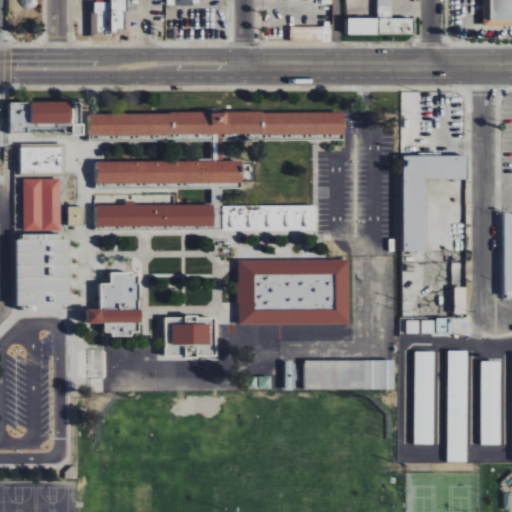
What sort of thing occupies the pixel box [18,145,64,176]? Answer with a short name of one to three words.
building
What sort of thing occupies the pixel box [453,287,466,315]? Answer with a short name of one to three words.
shed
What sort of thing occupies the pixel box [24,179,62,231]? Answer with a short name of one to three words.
building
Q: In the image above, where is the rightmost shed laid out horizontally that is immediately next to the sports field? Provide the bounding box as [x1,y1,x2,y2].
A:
[302,360,392,388]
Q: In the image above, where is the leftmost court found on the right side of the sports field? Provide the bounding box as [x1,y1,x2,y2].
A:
[406,472,442,512]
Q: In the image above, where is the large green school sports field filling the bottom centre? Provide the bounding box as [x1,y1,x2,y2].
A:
[76,392,406,512]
